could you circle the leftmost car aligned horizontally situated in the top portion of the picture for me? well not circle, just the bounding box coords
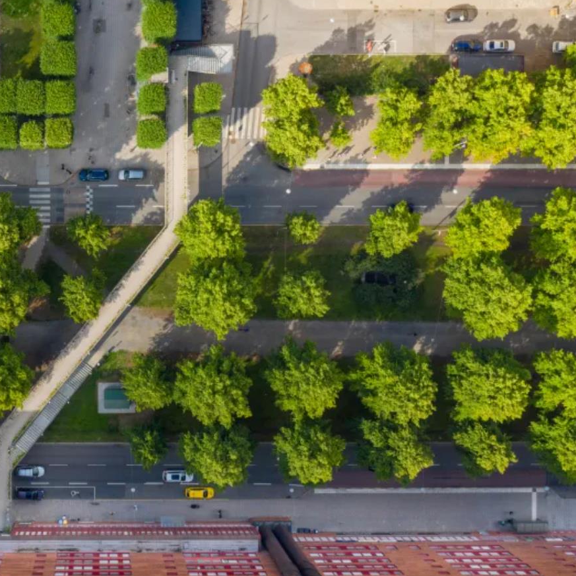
[79,167,109,181]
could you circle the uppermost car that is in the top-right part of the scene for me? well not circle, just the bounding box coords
[445,6,476,22]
